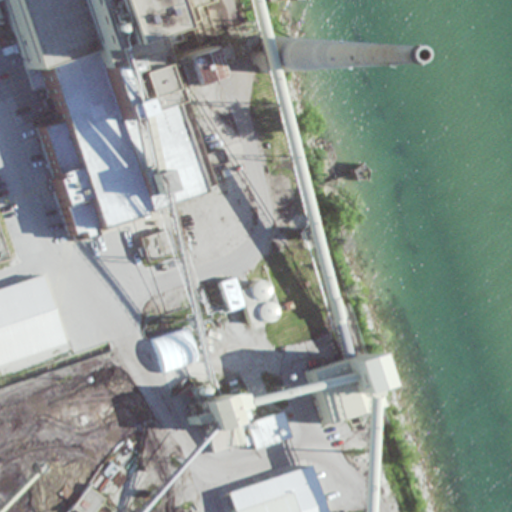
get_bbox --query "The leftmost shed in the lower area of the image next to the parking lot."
[0,276,70,364]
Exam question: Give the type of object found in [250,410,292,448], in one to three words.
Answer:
building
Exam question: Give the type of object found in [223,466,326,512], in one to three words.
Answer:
building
